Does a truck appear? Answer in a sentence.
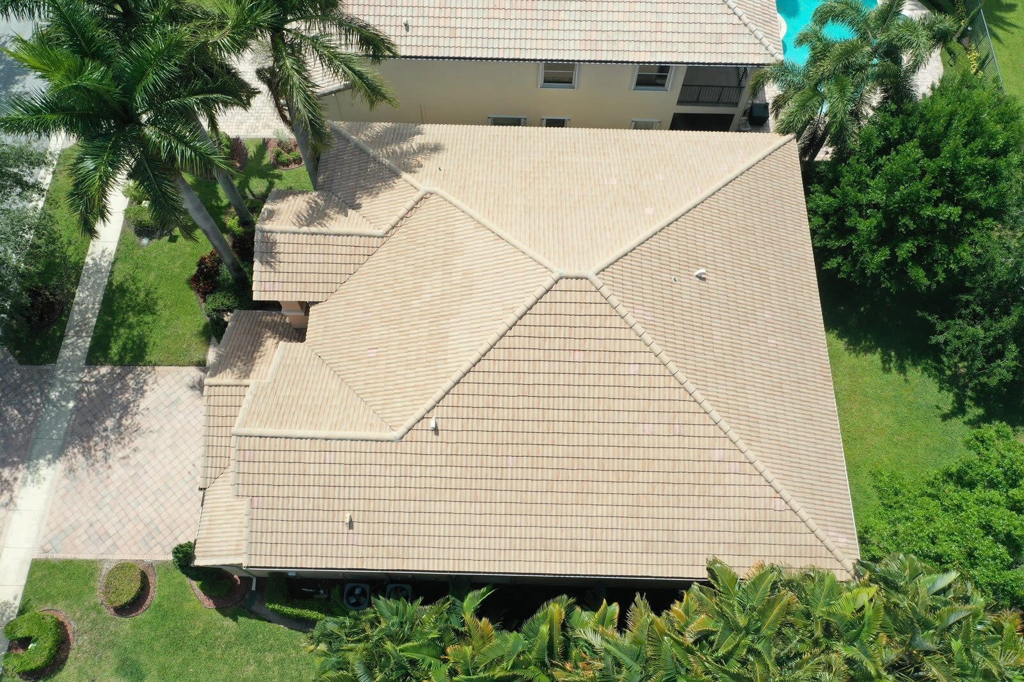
No, there isn't any truck down there.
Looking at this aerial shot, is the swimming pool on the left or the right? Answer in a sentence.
It is on the right.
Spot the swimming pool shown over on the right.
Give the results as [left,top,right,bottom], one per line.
[775,0,881,113]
